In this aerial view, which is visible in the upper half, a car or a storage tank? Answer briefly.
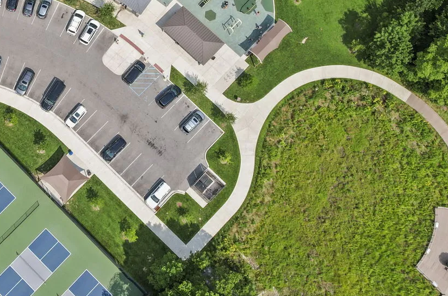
car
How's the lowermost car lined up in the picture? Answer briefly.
on a diagonal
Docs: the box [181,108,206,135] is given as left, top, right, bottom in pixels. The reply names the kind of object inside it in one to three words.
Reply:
car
